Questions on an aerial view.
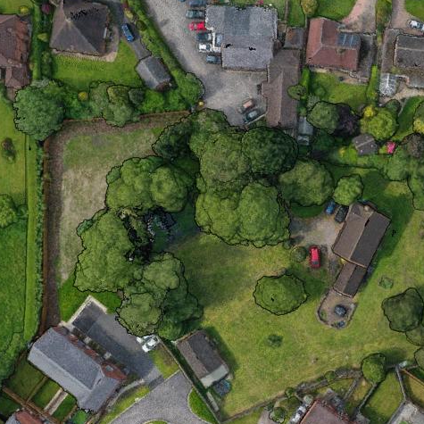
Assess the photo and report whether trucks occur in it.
No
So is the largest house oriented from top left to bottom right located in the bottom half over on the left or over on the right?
left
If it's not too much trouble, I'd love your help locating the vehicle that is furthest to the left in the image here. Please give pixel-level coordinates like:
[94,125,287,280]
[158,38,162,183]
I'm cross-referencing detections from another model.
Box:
[120,21,136,43]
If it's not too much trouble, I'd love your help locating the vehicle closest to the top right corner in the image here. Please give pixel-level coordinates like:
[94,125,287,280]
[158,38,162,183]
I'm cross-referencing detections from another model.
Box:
[407,17,424,30]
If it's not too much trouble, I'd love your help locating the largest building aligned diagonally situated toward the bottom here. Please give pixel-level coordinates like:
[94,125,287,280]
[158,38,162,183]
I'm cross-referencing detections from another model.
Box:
[26,325,139,417]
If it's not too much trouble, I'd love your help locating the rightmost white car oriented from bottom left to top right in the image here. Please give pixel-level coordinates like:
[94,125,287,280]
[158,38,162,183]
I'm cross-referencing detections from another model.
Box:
[292,403,309,424]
